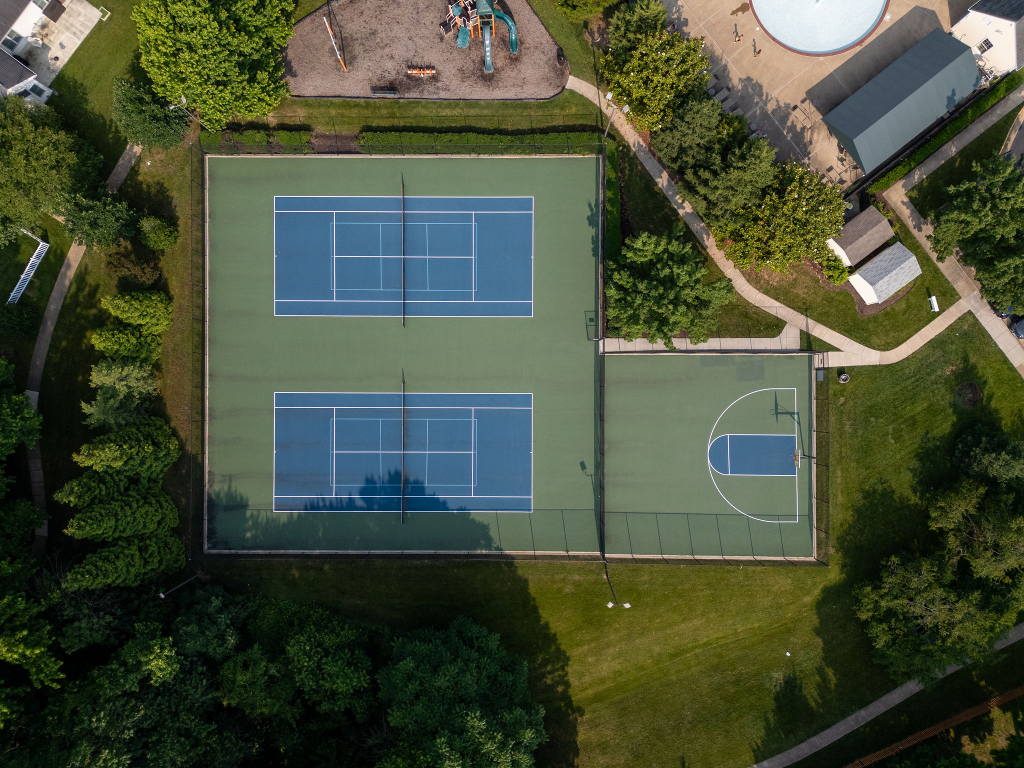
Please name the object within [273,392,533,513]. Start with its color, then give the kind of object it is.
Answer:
blue tennis court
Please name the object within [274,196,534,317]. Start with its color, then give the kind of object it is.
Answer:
blue tennis court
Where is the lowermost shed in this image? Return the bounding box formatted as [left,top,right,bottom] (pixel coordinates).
[848,242,920,305]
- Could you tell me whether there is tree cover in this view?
Yes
